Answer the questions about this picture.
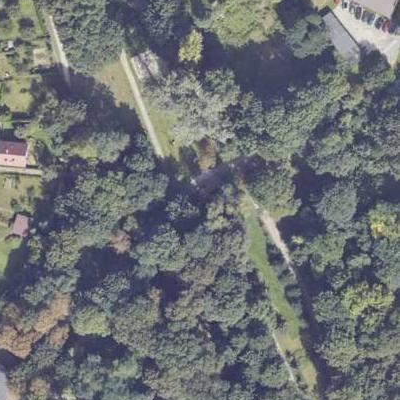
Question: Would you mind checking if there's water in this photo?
No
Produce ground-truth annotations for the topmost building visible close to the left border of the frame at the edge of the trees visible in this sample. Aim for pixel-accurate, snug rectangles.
[0,140,29,170]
